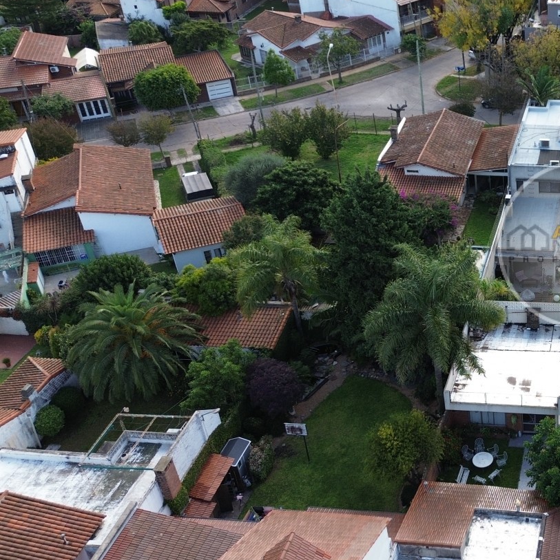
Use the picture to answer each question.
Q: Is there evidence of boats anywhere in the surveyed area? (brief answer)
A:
No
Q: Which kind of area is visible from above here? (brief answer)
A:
residential area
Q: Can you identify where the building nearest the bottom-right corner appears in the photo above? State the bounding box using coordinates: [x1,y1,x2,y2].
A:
[394,478,560,560]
